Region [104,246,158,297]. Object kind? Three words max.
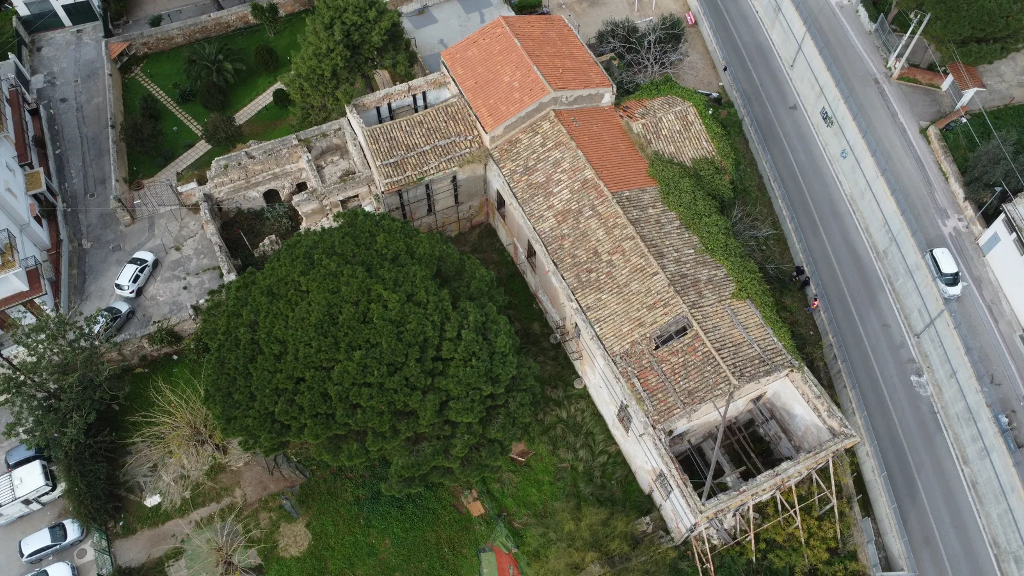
car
